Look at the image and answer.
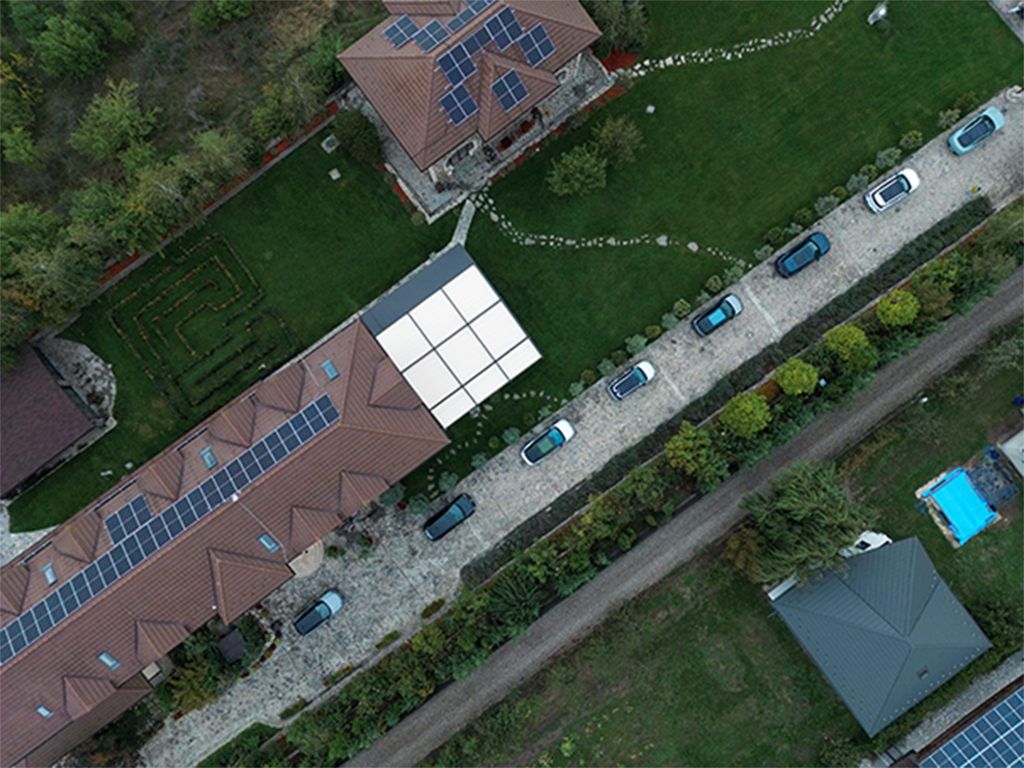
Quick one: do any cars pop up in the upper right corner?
Yes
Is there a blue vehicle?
Yes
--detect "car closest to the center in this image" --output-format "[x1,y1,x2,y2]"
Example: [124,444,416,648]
[520,417,575,467]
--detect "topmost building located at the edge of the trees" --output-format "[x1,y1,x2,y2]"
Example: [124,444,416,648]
[337,0,603,171]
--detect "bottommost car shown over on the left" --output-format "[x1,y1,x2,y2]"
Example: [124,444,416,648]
[289,586,347,639]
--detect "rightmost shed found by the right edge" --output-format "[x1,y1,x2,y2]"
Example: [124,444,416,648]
[989,423,1024,478]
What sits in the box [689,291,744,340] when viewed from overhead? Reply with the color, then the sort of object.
blue car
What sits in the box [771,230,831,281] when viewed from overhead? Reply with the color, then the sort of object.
blue car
